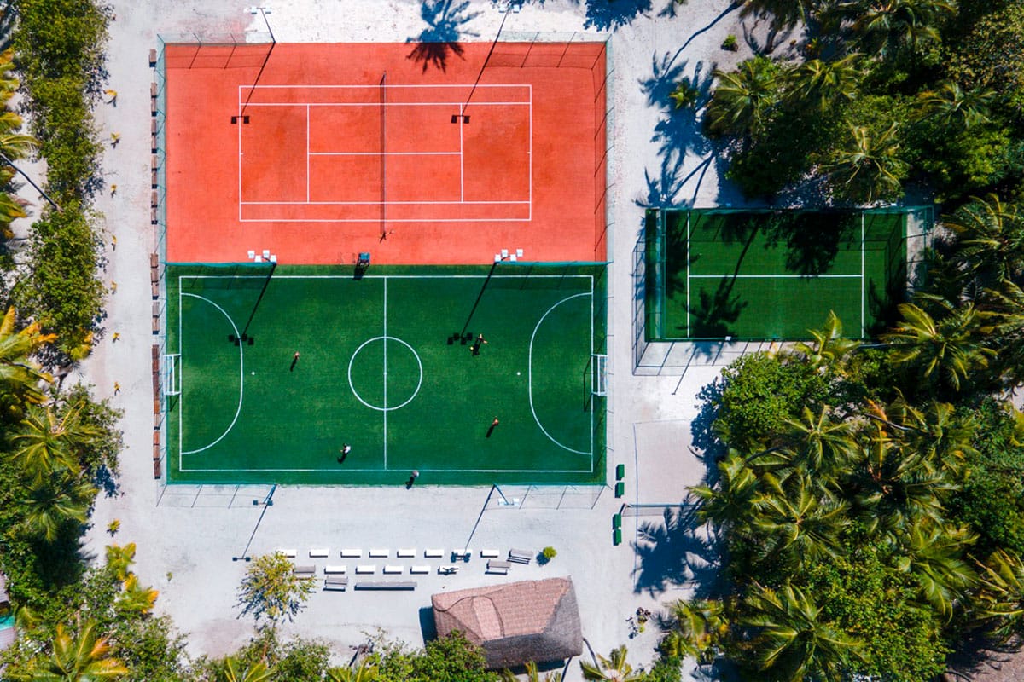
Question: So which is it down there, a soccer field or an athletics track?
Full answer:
This aerial view contains a soccer field.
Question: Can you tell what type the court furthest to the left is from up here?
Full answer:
The court furthest to the left is a tennis court.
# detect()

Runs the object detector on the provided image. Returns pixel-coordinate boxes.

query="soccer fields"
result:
[166,264,607,485]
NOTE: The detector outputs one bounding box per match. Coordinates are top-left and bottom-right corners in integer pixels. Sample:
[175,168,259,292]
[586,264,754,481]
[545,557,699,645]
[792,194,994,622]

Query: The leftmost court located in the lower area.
[634,418,732,591]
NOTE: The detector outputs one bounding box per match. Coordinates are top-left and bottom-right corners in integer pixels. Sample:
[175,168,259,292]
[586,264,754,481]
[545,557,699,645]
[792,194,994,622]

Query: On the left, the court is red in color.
[165,43,607,264]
